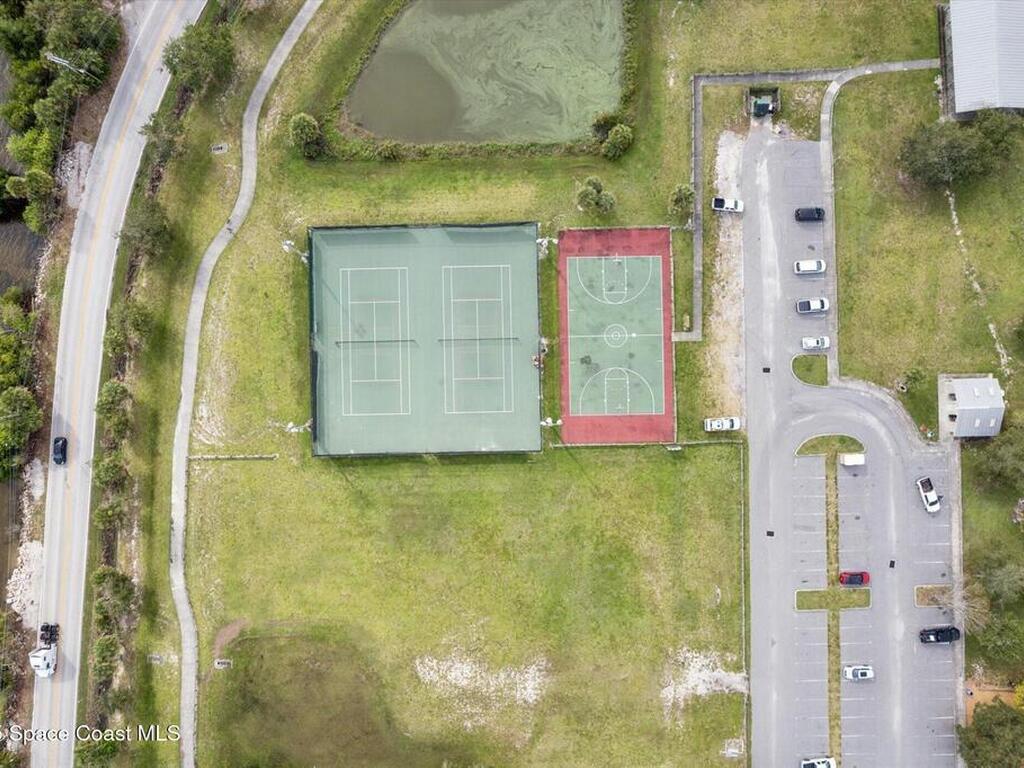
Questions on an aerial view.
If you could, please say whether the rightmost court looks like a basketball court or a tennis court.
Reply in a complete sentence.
It looks like the rightmost court is a basketball court.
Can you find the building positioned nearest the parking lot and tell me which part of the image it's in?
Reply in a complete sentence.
Look in the right portion of the view to spot the building positioned nearest the parking lot.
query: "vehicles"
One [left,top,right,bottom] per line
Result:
[919,627,957,644]
[916,477,944,513]
[795,297,829,312]
[801,336,830,350]
[794,206,824,221]
[711,197,744,212]
[800,757,835,768]
[704,417,740,432]
[30,624,61,677]
[843,665,873,680]
[793,259,825,274]
[839,572,869,586]
[52,436,69,464]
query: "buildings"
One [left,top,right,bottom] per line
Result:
[947,378,1004,436]
[938,0,1024,118]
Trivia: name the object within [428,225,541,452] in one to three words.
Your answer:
tennis court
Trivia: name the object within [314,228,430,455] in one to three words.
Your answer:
tennis court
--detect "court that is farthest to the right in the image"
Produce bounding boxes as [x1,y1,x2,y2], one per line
[558,228,675,445]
